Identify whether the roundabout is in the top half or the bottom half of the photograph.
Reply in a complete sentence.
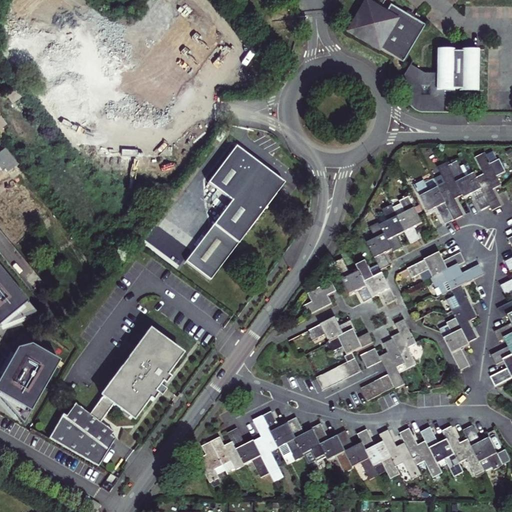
It is in the top half that the roundabout appears.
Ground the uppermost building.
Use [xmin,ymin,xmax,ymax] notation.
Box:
[346,0,426,63]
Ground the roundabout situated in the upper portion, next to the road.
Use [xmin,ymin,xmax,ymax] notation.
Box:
[256,18,440,212]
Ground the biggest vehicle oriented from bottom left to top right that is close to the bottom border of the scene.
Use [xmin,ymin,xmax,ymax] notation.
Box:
[102,471,118,488]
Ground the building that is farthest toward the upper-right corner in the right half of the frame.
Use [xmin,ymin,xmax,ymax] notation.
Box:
[438,46,480,92]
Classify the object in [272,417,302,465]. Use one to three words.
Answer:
house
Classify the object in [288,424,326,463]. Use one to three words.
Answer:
house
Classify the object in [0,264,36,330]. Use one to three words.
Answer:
building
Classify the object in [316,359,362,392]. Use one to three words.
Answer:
building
